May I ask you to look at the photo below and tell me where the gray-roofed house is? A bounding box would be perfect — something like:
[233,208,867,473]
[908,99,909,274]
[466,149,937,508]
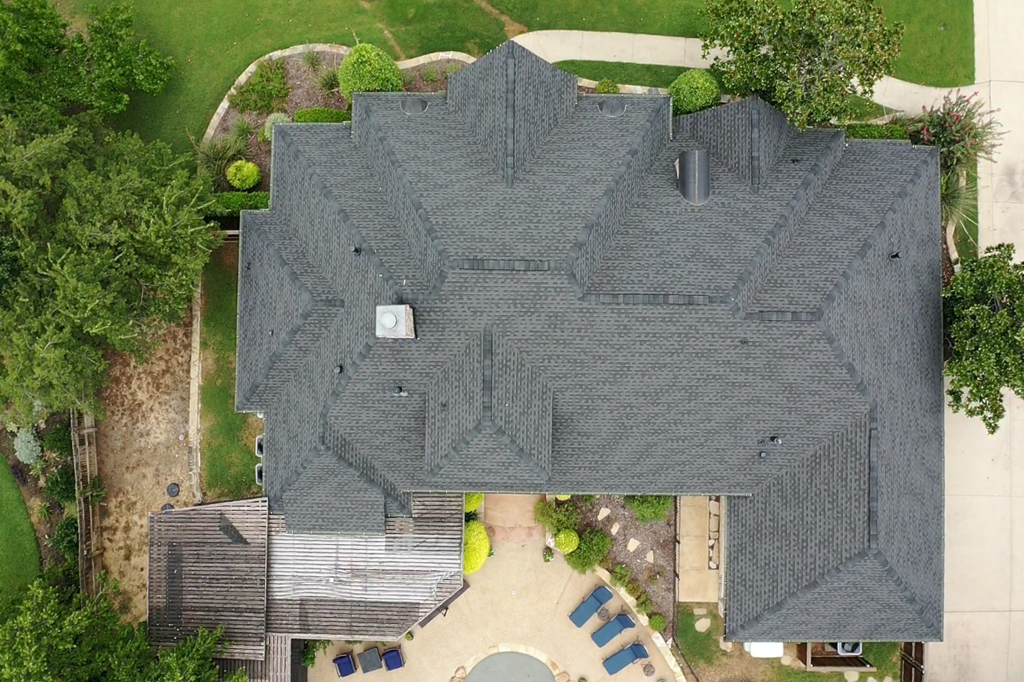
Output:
[233,34,947,645]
